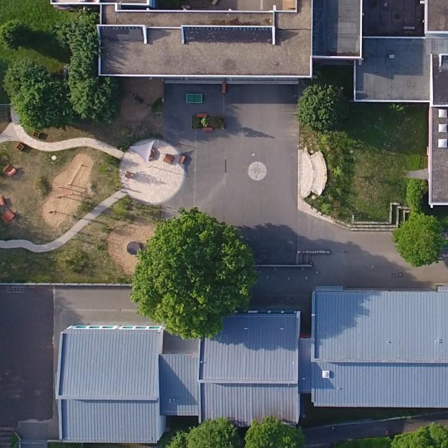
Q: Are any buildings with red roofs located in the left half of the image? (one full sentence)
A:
No, no building with a red roof appears in the left half of the image.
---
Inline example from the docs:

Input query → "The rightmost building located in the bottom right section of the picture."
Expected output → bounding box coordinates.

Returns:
[311,283,448,407]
